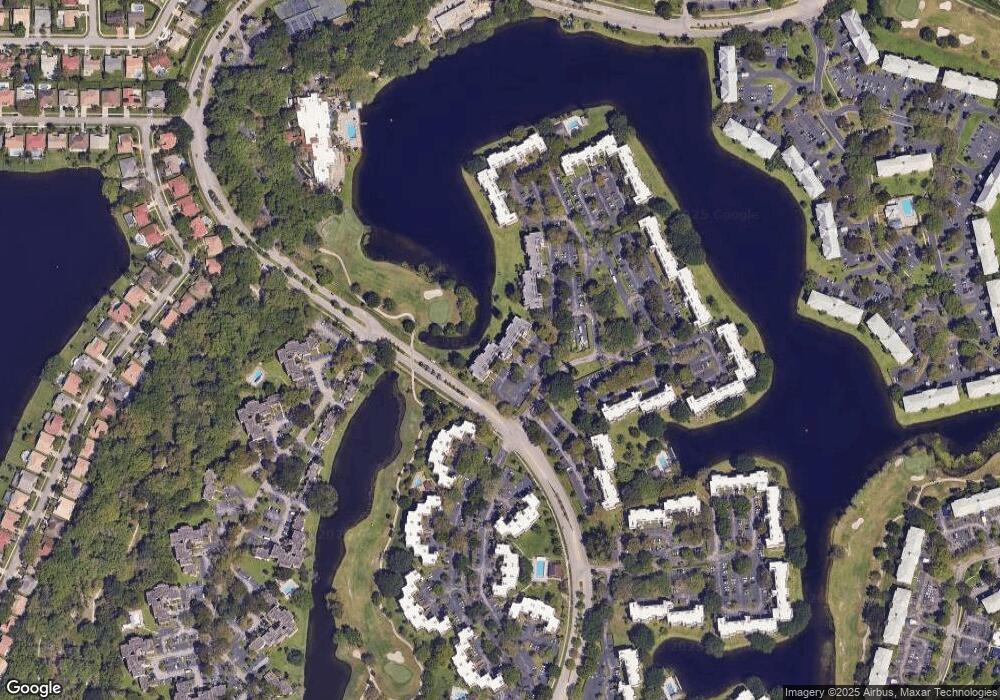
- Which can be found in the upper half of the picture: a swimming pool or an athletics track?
swimming pool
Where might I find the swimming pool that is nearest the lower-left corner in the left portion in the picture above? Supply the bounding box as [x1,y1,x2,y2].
[277,579,299,597]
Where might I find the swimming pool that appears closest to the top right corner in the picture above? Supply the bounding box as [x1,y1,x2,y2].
[885,197,918,228]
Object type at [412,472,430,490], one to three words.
swimming pool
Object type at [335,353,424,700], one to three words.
golf course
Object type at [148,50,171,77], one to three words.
house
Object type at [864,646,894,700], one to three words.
building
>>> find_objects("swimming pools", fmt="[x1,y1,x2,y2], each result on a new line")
[340,108,360,146]
[885,197,918,228]
[246,367,264,387]
[277,579,299,597]
[561,115,584,136]
[412,472,430,490]
[664,677,682,700]
[655,450,671,472]
[450,686,469,700]
[532,558,549,582]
